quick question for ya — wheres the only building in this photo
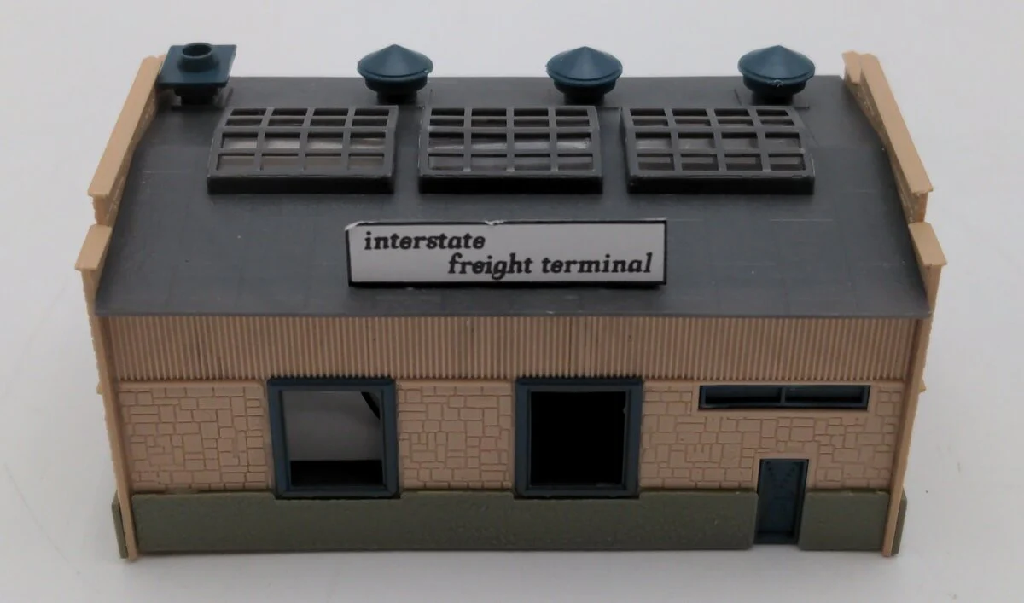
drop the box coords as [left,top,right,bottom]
[76,43,945,559]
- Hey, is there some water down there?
No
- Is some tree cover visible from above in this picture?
No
